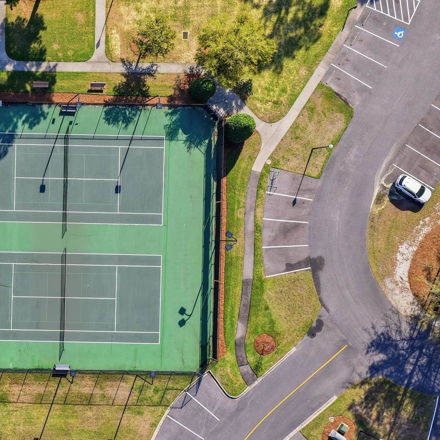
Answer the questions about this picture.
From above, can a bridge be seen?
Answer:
No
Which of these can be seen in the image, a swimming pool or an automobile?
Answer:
automobile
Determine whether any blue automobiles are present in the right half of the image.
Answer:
No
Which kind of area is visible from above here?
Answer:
sports ground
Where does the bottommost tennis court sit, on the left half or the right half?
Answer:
left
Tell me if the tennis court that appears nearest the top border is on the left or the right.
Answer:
left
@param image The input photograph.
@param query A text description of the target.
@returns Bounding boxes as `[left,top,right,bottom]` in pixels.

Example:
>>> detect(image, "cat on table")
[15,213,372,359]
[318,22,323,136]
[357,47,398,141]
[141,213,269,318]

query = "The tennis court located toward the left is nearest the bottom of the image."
[0,235,213,372]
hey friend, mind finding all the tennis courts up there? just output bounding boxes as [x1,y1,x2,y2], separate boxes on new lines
[0,106,215,237]
[0,235,213,372]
